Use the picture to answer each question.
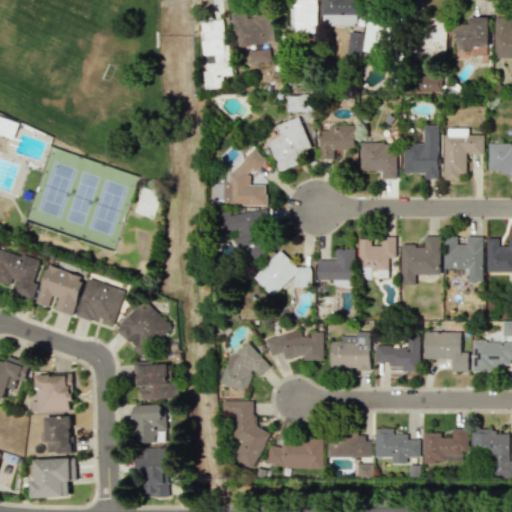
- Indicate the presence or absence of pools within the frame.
Yes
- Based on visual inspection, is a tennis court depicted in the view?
Yes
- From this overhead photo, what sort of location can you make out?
residential area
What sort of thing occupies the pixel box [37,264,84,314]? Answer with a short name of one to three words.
house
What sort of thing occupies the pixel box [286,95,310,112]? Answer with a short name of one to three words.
shed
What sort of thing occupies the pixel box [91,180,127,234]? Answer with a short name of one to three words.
tennis court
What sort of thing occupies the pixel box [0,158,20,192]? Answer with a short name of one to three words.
swimming pool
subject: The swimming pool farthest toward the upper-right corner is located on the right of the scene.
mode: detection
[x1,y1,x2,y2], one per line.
[458,63,476,81]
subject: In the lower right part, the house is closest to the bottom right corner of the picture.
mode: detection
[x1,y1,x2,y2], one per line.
[473,430,512,478]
